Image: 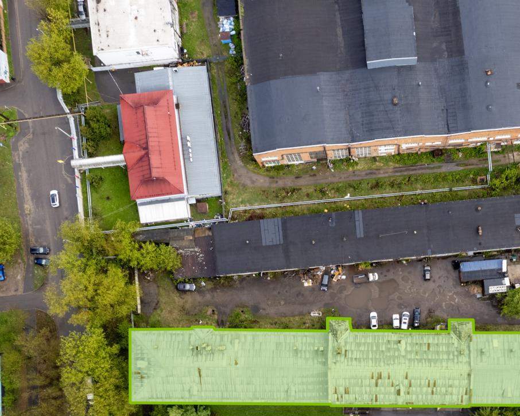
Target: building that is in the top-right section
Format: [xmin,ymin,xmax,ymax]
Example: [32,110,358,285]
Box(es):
[243,0,520,169]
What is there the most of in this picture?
buildings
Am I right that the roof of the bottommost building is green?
Yes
